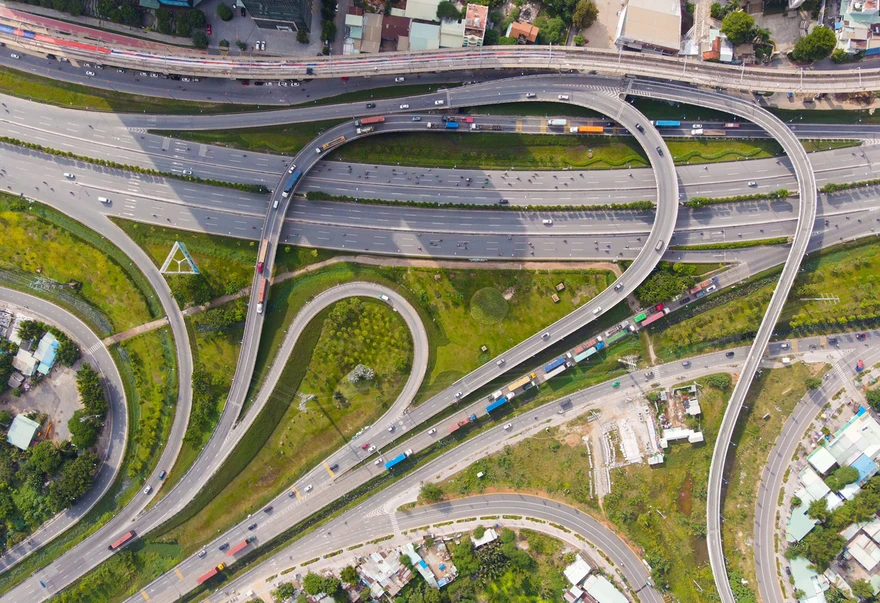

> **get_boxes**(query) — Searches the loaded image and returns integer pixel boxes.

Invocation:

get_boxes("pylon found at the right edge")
[817,290,846,308]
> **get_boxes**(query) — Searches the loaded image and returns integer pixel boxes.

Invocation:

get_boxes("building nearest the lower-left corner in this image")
[7,412,46,449]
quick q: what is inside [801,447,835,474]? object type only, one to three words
house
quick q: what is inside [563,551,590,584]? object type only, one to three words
house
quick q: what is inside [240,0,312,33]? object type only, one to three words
building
